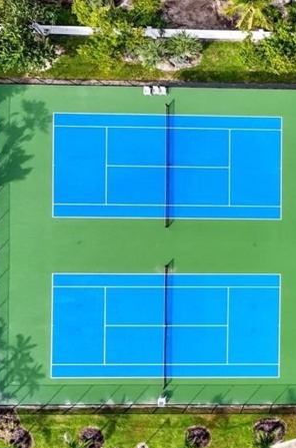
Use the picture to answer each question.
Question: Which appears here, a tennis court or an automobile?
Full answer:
Of the two, only a tennis court appears.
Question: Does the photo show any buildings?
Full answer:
No, no building can be seen from above.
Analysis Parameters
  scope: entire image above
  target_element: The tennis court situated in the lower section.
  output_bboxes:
[51,273,280,378]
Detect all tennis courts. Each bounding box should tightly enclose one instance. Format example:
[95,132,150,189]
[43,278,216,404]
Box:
[51,273,280,378]
[52,112,281,220]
